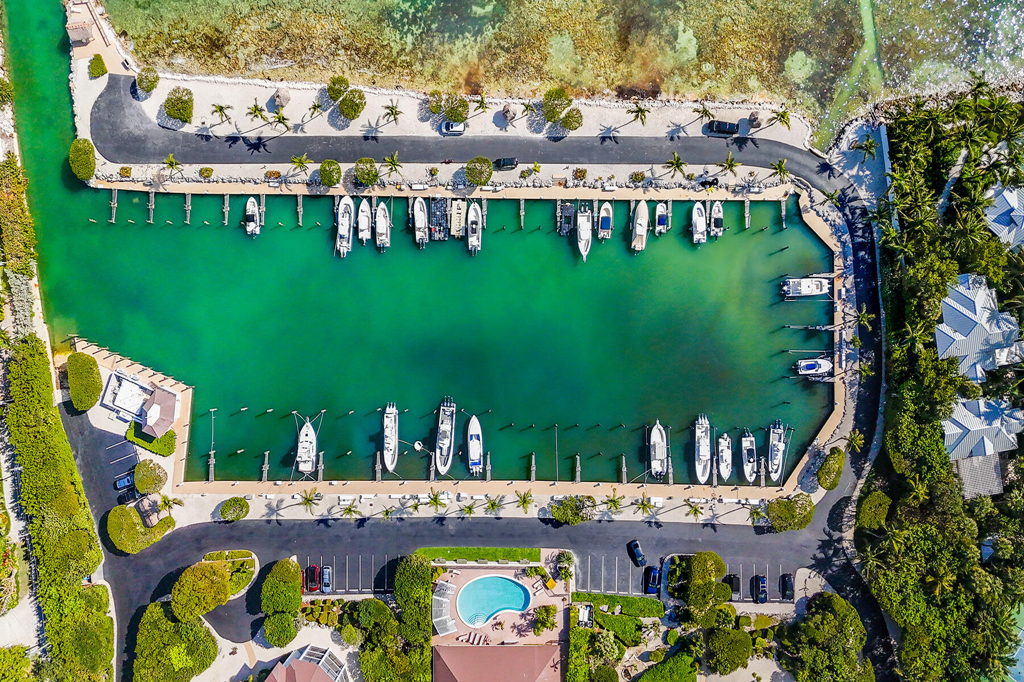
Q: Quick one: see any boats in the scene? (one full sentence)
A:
Yes, the photo shows a boat.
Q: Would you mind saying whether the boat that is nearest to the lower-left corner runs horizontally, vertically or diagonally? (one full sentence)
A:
From this overhead view, the boat that is nearest to the lower-left corner appears to run vertically.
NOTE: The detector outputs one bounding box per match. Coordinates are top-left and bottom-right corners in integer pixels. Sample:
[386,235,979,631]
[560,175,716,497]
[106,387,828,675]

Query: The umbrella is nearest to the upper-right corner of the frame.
[745,111,763,129]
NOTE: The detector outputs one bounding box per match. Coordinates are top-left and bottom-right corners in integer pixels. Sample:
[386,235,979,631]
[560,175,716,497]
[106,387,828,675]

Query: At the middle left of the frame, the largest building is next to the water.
[99,371,189,438]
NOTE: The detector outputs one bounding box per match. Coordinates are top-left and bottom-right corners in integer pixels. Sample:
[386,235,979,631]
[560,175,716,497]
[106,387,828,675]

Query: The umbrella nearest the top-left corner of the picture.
[273,89,293,108]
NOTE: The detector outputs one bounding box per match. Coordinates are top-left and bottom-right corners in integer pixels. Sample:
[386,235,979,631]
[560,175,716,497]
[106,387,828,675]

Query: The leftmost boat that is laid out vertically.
[243,196,259,245]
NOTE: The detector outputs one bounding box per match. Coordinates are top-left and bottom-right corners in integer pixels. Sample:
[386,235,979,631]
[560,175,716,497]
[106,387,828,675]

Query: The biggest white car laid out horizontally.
[441,123,466,135]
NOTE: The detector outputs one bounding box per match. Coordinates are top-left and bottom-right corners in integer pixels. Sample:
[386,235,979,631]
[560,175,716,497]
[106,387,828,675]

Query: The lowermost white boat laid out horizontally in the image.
[788,359,834,374]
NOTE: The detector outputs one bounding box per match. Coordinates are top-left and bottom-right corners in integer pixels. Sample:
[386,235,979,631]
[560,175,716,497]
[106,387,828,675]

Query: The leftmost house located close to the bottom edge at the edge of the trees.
[267,640,350,682]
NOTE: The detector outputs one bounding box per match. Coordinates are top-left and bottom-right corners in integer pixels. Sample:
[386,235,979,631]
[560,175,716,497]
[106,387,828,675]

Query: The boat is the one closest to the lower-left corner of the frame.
[296,415,316,472]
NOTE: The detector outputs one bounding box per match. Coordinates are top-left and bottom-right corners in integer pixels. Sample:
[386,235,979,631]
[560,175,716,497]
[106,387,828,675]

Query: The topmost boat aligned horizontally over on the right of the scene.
[775,278,831,296]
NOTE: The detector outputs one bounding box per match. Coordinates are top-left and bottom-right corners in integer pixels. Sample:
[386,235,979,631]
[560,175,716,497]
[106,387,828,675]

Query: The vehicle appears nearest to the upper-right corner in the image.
[707,120,738,134]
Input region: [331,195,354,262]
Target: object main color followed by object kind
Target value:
white boat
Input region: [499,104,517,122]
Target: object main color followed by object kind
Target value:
gray umbrella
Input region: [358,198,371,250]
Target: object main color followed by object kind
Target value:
white boat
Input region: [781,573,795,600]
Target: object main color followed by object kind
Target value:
black car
